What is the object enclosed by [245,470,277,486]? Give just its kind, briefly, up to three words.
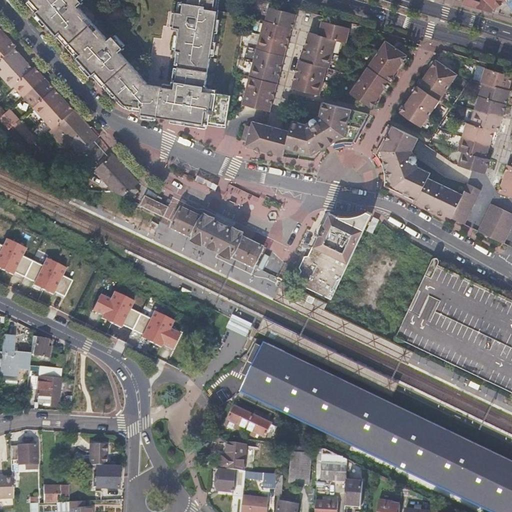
shed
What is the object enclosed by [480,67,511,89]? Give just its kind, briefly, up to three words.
house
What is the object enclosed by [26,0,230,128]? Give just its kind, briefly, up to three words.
building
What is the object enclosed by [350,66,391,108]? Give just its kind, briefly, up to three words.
house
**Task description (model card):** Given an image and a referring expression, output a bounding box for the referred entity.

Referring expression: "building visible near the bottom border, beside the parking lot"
[238,342,512,512]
